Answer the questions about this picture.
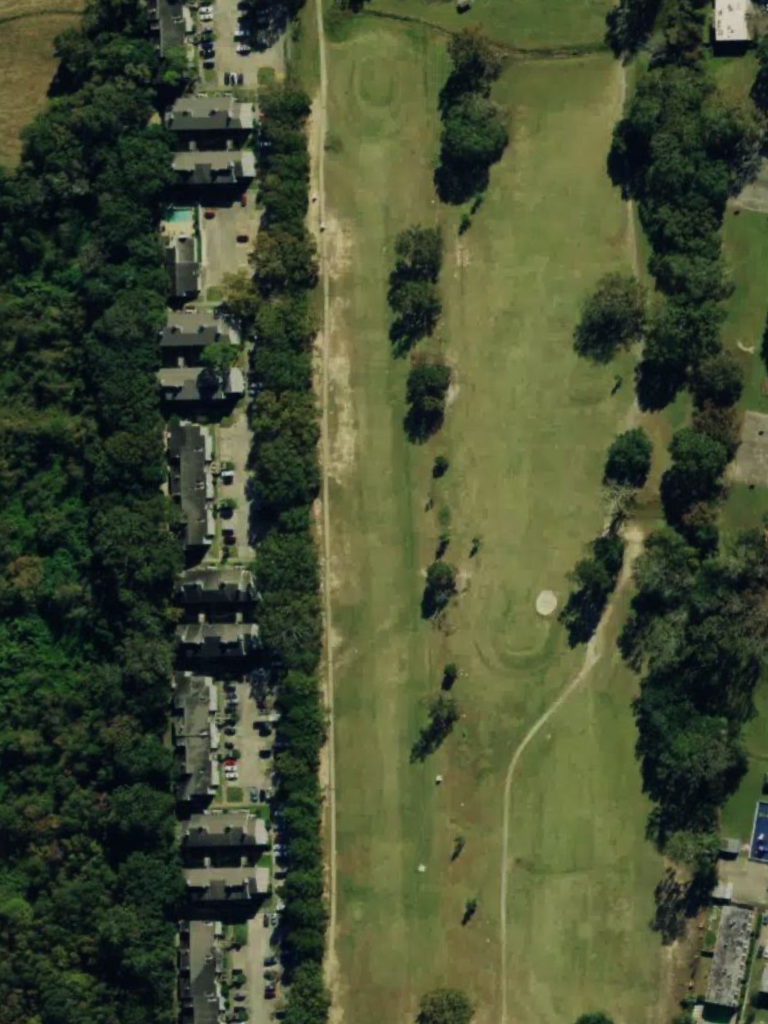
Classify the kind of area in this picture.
golf course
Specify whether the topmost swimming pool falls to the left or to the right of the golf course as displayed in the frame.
on its left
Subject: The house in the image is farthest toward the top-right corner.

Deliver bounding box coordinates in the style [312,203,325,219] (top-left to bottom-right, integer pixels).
[715,0,755,39]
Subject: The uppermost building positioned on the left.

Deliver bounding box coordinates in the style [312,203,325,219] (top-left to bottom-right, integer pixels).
[148,0,192,58]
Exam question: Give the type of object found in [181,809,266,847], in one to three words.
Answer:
building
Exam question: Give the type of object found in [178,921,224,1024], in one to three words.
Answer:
building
